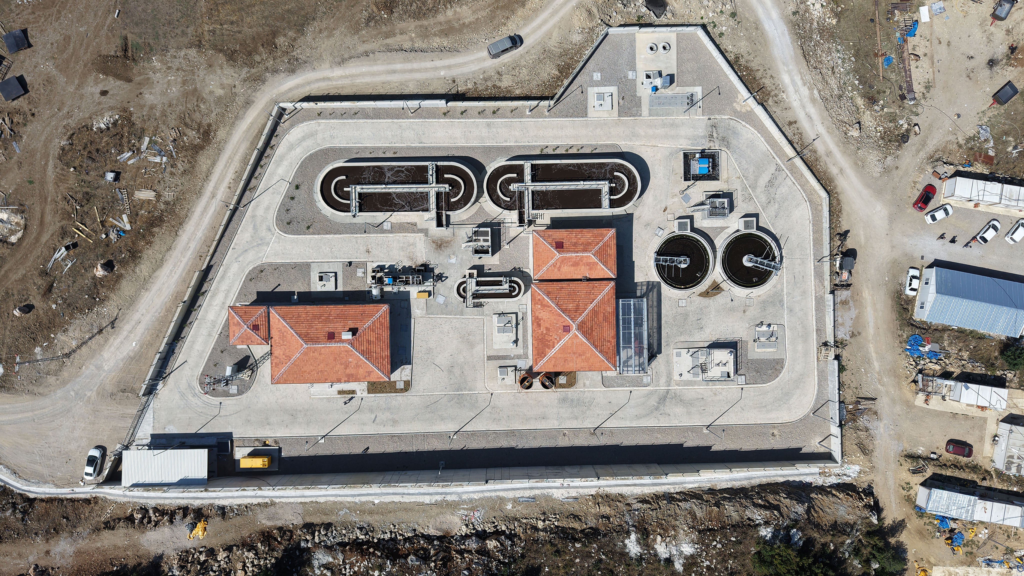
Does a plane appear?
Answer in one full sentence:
No, no plane is visible in the scene.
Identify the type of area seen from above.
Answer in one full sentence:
This image shows an industrial area.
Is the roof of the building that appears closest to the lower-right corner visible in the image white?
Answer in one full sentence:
Yes, the roof of the building that appears closest to the lower-right corner appears white.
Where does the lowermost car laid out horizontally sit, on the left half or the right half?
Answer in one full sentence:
You can find the lowermost car laid out horizontally on the right side of the picture.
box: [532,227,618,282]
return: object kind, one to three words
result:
building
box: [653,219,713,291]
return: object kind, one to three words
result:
storage tank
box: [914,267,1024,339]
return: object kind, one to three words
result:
shed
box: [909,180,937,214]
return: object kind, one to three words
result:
car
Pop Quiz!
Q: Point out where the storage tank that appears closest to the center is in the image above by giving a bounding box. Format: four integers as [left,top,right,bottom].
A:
[454,270,524,309]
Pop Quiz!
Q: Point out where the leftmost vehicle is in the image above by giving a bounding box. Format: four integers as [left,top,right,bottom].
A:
[81,445,105,483]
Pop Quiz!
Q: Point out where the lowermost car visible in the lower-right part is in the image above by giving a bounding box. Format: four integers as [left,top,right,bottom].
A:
[939,438,976,459]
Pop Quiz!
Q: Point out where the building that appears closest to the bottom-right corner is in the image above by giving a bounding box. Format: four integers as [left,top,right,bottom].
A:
[973,496,1023,528]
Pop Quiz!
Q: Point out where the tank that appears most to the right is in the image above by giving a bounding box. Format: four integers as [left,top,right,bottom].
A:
[718,218,788,291]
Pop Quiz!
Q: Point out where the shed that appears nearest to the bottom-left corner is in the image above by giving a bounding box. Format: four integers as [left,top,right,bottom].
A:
[122,445,215,485]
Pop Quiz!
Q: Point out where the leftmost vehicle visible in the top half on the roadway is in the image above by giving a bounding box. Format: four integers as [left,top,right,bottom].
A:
[484,32,523,60]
